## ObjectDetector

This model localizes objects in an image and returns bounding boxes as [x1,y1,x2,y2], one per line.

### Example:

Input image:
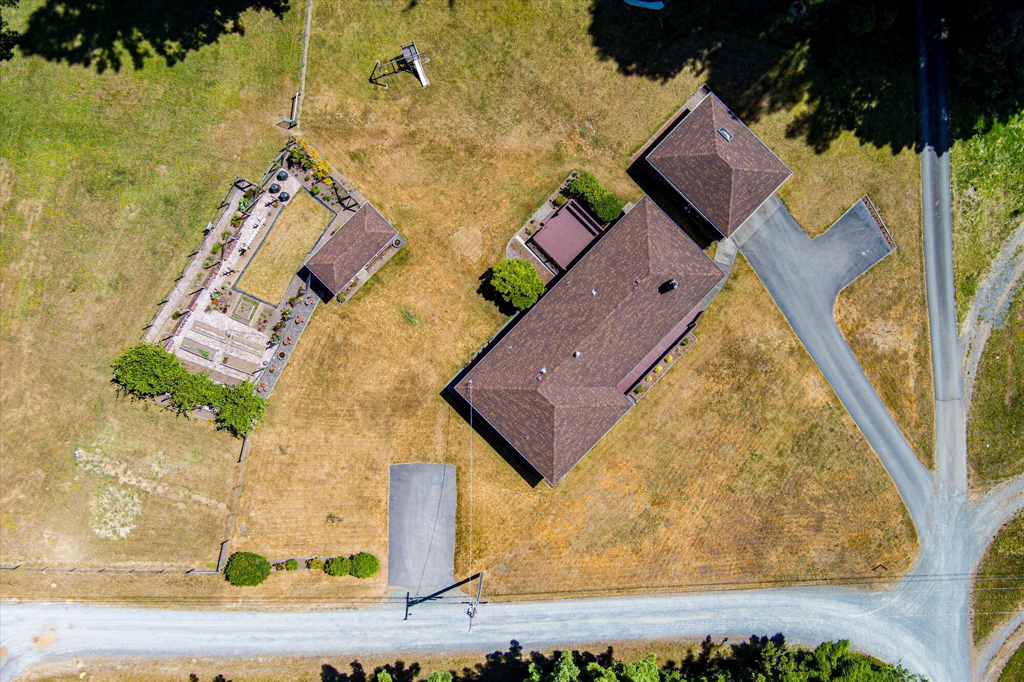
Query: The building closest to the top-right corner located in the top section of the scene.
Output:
[645,92,792,239]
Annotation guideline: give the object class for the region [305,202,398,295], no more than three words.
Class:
shed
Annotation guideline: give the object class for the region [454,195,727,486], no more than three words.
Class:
house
